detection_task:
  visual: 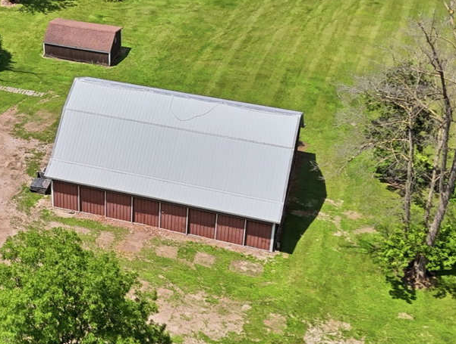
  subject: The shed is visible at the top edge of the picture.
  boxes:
[43,14,122,65]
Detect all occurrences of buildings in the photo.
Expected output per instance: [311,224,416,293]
[43,14,122,65]
[41,71,307,251]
